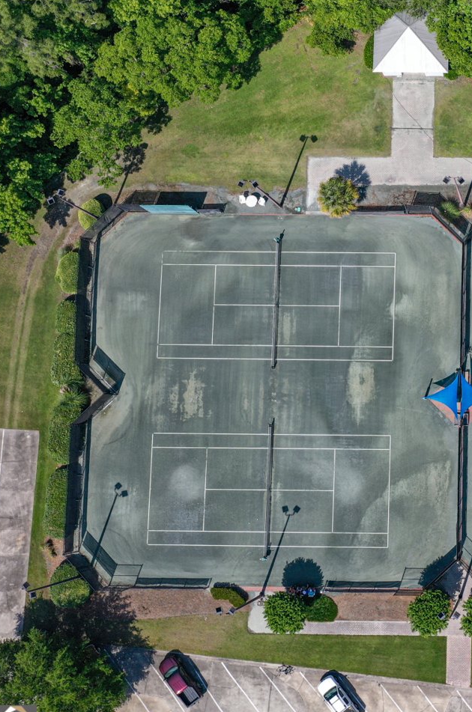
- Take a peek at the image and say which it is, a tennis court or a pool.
tennis court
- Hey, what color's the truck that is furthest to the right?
white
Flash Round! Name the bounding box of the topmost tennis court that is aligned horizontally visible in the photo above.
[90,213,465,398]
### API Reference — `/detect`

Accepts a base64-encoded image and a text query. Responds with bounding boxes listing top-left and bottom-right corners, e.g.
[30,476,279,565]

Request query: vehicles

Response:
[316,671,361,712]
[159,653,205,711]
